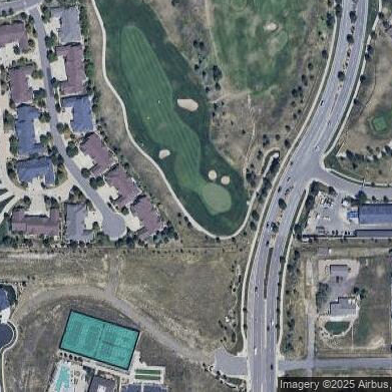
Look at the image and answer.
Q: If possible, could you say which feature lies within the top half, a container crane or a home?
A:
home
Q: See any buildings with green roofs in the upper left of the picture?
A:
No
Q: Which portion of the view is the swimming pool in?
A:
bottom left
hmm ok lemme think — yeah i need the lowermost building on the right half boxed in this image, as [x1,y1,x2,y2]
[329,297,357,316]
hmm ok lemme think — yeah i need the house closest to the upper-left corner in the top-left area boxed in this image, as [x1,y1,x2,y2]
[0,22,23,47]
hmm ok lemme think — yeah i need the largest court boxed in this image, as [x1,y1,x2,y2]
[61,311,139,369]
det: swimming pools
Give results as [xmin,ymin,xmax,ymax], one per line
[51,360,88,392]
